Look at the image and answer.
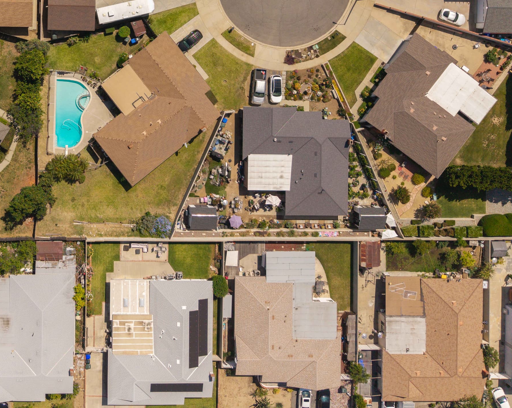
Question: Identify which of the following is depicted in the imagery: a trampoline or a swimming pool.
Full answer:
The one in the frame is a swimming pool.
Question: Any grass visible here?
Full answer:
Yes, some grass is visible.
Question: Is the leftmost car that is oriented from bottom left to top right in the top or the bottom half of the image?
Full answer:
The leftmost car that is oriented from bottom left to top right sits in the top half of the picture.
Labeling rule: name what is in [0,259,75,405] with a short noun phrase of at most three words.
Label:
house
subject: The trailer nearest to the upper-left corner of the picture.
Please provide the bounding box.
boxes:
[96,0,155,25]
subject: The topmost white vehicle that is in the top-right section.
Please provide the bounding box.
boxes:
[437,8,466,27]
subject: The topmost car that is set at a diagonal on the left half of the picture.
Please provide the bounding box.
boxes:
[176,27,204,54]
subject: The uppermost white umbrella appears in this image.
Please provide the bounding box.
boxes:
[265,191,282,207]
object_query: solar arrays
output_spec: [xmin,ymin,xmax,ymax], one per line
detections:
[199,298,208,356]
[150,383,203,392]
[189,310,199,368]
